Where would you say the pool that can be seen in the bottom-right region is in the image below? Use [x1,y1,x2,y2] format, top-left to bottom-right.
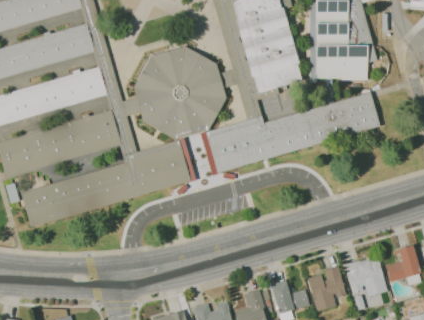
[392,280,415,298]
